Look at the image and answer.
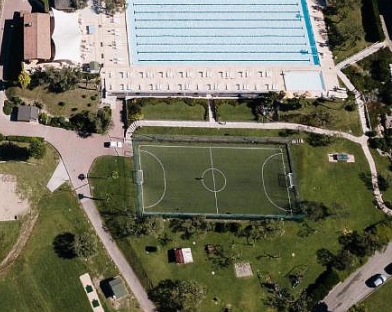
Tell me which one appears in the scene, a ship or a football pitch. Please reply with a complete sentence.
The one in the frame is a football pitch.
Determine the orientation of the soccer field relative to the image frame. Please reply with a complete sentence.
What the image shows is the soccer field lying from side to side.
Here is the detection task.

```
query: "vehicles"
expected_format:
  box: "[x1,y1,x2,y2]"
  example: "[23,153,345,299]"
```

[108,142,119,149]
[370,272,390,289]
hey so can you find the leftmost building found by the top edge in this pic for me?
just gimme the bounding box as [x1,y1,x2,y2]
[19,11,56,73]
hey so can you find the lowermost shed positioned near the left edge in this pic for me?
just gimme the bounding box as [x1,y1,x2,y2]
[14,105,40,123]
